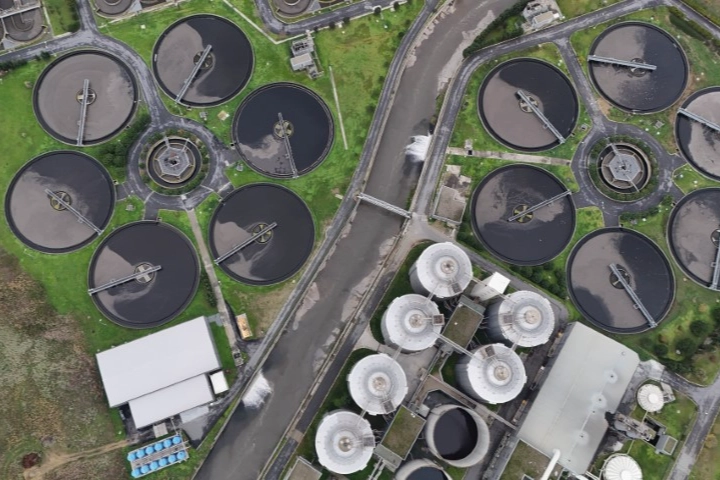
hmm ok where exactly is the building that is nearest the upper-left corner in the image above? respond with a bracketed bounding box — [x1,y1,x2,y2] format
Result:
[291,29,323,81]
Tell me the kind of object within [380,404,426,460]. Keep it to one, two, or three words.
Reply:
building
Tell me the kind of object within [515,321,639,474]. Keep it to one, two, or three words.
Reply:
building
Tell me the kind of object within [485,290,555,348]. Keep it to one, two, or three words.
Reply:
storage tank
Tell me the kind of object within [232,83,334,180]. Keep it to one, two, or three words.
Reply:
water tank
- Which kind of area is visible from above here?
industrial area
